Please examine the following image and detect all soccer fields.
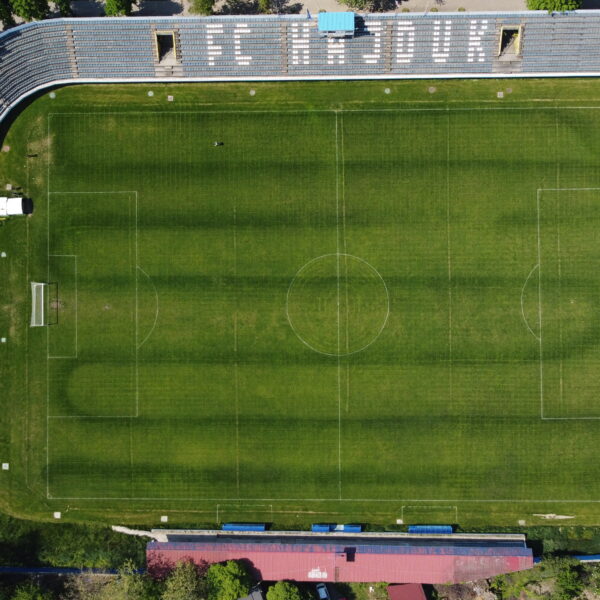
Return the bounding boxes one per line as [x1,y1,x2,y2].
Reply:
[40,103,600,521]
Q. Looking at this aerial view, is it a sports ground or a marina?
sports ground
